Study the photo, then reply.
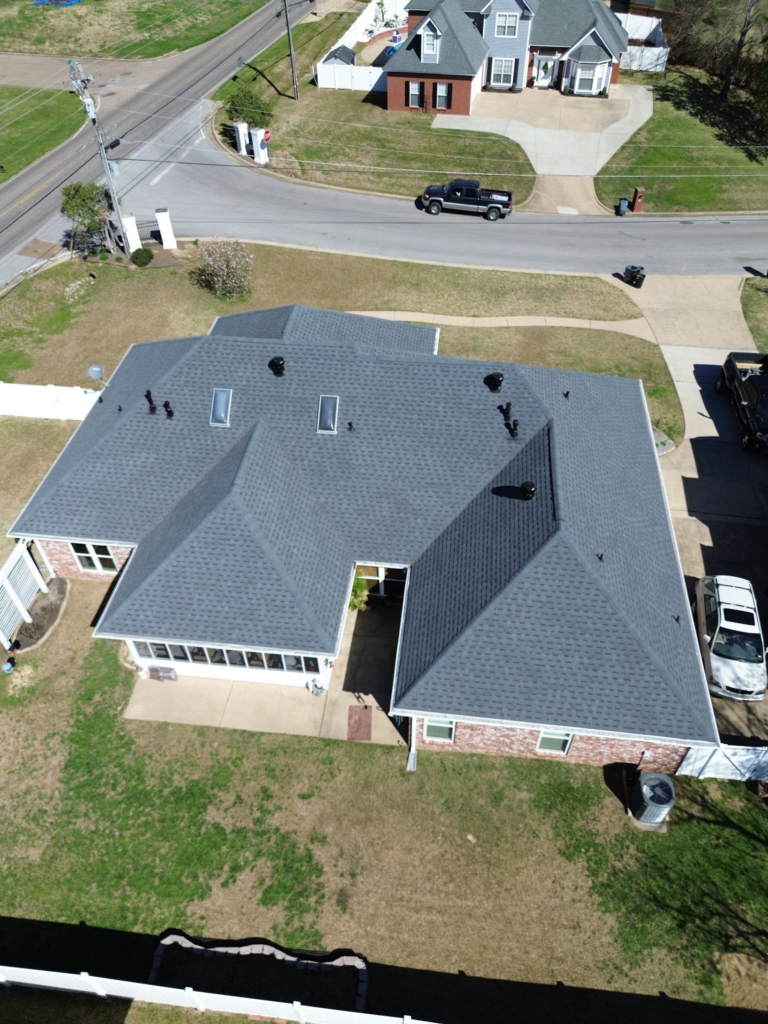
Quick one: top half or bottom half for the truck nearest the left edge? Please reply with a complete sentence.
The truck nearest the left edge sits in the top half of the picture.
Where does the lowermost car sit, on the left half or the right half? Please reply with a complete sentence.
The lowermost car sits on the right side.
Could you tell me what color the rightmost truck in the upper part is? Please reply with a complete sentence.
In this view, the rightmost truck in the upper part is black.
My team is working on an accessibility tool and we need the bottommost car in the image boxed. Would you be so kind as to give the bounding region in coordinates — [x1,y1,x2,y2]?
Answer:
[692,575,768,709]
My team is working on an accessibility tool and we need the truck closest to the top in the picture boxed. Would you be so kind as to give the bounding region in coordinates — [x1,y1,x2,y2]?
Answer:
[418,177,518,221]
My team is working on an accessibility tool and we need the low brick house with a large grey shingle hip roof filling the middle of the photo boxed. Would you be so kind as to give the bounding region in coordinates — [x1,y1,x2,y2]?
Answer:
[7,304,720,774]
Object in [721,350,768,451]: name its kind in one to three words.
truck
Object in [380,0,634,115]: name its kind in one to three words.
house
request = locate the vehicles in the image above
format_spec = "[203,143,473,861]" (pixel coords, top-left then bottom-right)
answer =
[721,350,768,451]
[418,177,518,221]
[692,575,768,709]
